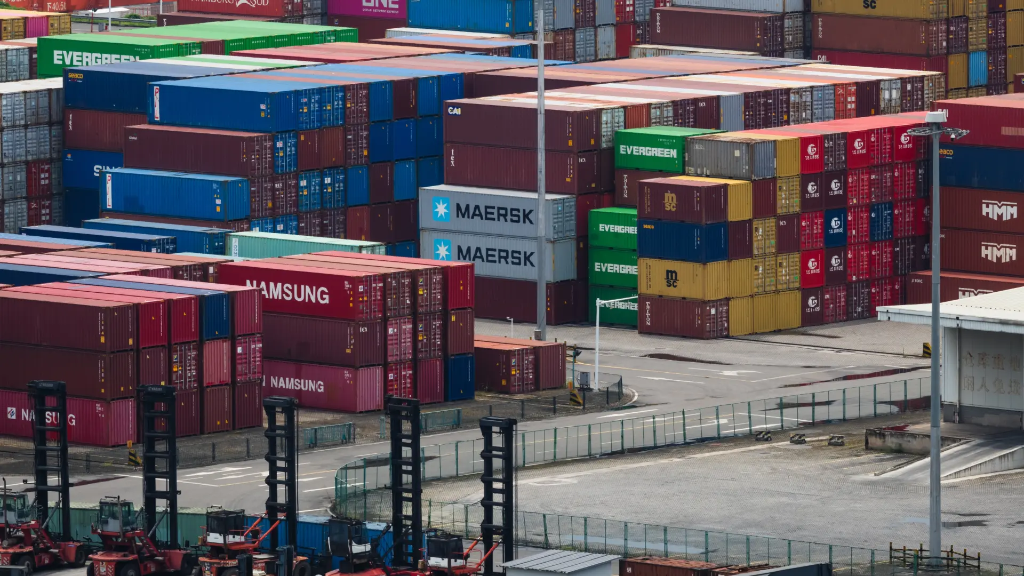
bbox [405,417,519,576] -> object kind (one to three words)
truck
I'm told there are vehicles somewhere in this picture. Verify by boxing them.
[405,417,519,576]
[308,396,421,576]
[185,396,316,576]
[0,379,94,567]
[78,384,196,576]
